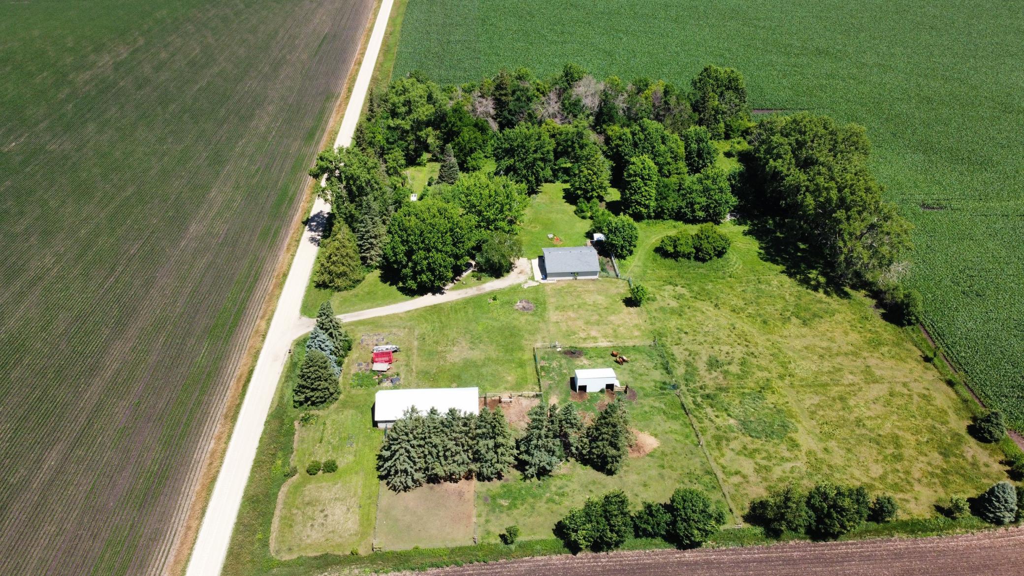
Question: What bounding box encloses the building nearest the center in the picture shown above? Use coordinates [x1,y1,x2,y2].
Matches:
[543,246,601,280]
